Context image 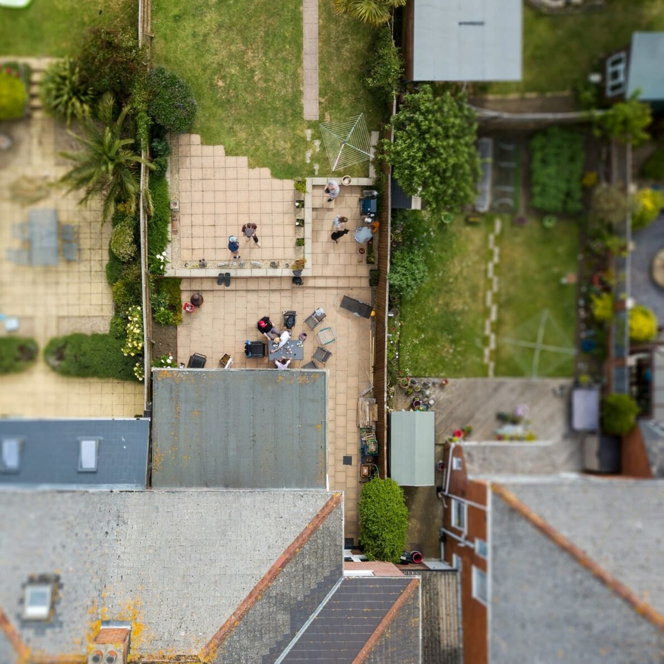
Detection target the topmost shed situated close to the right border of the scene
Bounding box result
[606,32,664,100]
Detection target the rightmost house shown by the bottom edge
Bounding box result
[444,436,664,664]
